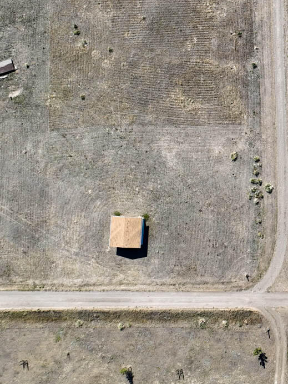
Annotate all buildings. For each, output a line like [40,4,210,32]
[0,55,15,77]
[110,215,148,248]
